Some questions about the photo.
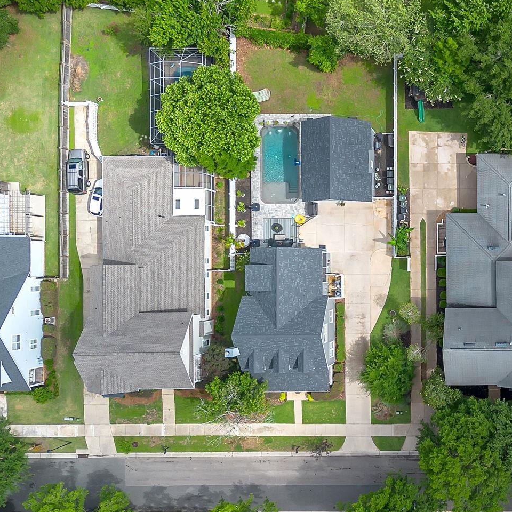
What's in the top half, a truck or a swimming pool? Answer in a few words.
swimming pool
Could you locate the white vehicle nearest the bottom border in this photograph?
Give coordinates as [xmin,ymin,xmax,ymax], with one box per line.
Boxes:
[84,174,102,215]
